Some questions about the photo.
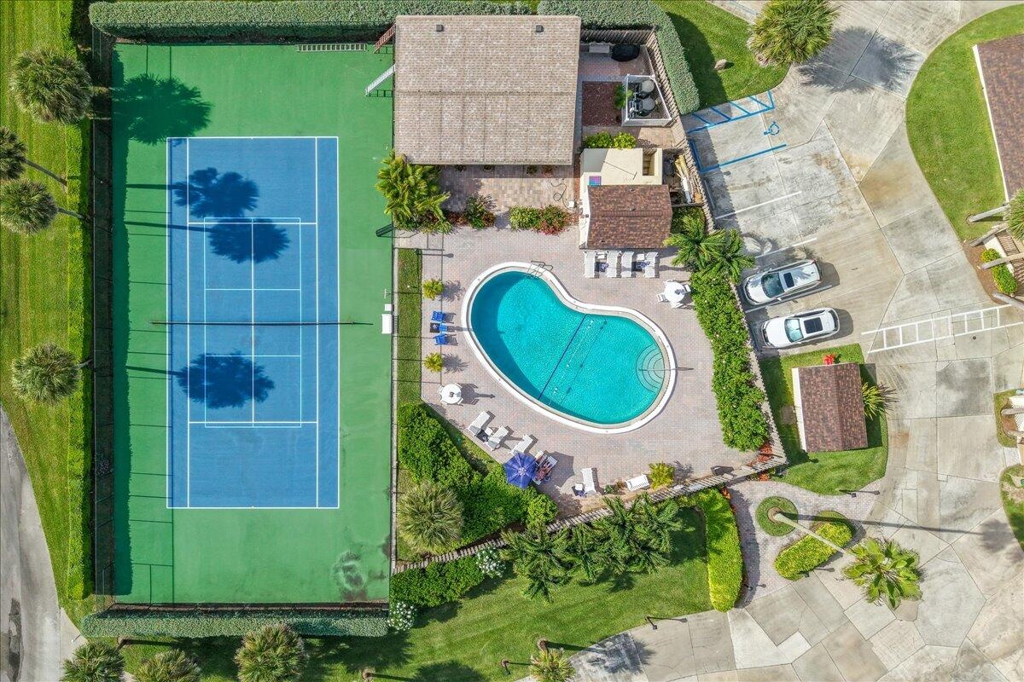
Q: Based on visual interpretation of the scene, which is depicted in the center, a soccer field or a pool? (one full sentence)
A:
Visible in the center is a pool.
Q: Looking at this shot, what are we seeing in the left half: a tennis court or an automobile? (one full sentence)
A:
The one visible in the left half is a tennis court.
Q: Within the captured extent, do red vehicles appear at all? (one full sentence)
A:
No, there is no red vehicle in the image.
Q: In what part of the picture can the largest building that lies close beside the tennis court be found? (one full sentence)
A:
The largest building that lies close beside the tennis court sits in the top section of the image.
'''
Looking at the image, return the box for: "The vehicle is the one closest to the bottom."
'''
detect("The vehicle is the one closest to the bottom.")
[758,308,841,347]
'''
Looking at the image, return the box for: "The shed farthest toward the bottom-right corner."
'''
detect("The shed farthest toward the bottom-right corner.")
[785,361,868,454]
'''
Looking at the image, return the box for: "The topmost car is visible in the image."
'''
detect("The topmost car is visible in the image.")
[741,258,822,304]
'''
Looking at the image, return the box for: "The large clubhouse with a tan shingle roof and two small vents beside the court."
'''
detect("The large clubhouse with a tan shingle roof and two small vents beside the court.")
[394,12,580,166]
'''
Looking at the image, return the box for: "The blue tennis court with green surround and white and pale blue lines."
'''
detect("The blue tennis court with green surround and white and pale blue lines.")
[113,43,392,603]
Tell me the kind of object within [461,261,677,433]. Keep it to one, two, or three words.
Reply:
swimming pool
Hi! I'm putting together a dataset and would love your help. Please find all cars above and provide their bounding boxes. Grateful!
[758,308,841,347]
[741,258,822,304]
